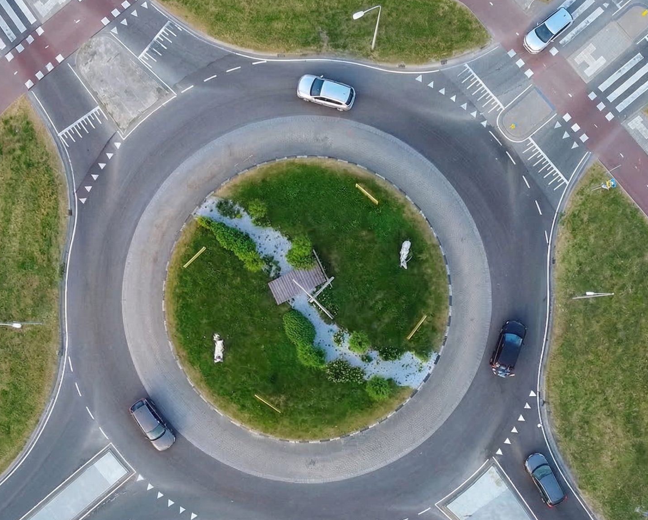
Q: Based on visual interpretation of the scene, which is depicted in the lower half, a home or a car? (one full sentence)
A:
It is a car that can be seen in the lower half.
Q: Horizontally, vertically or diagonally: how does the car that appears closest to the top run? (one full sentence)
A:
The car that appears closest to the top is laid out diagonally.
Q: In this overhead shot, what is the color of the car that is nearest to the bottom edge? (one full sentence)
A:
In this view, the car that is nearest to the bottom edge is blue.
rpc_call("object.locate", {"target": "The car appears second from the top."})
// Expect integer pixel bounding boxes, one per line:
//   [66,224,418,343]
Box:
[298,74,356,113]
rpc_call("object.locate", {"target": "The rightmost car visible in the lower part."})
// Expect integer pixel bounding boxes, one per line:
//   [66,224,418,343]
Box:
[523,451,569,509]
